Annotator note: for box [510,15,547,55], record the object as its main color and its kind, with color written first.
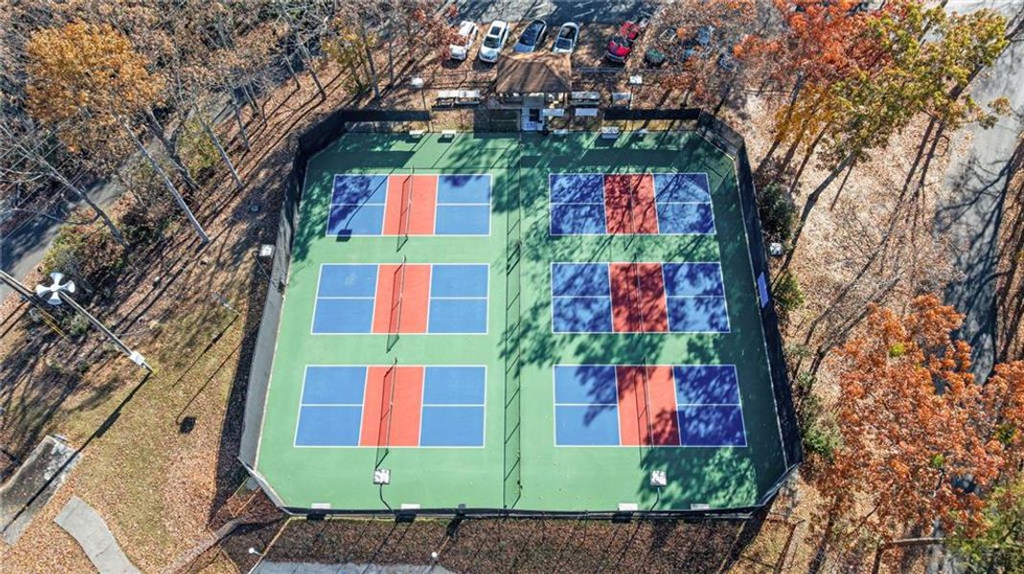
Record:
blue car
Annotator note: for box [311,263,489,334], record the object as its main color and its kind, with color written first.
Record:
blue sports court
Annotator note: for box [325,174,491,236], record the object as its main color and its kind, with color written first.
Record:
blue sports court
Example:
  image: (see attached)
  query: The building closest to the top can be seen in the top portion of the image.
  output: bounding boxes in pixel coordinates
[496,54,573,112]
